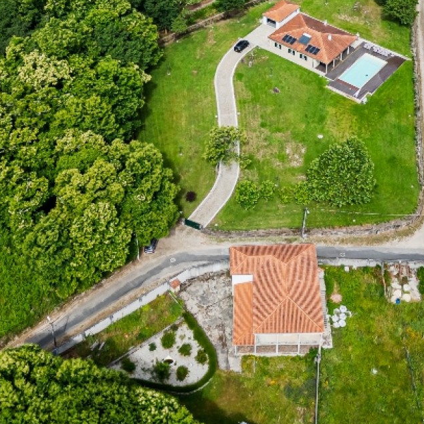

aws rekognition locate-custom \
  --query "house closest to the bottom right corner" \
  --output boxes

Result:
[229,244,325,364]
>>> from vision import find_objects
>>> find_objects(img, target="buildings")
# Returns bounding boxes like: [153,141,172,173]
[266,13,358,77]
[167,277,182,293]
[229,244,325,364]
